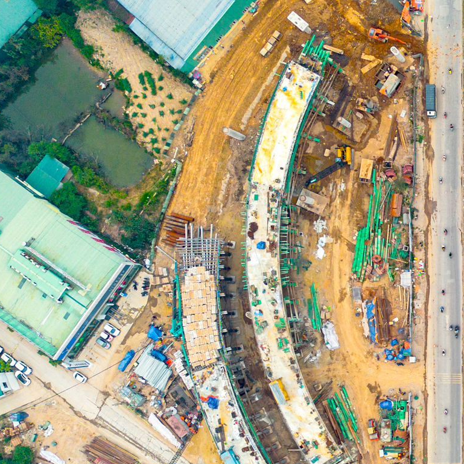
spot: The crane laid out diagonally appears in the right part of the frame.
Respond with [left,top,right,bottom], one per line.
[304,144,360,187]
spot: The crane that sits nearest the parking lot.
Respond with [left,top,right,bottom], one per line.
[170,273,187,352]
